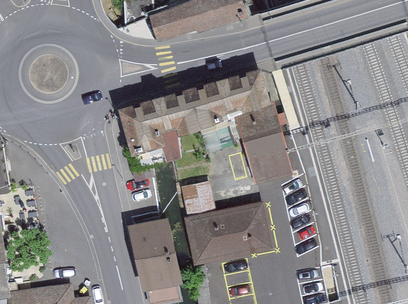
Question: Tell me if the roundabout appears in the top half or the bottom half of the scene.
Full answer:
The roundabout is in the top half of the image.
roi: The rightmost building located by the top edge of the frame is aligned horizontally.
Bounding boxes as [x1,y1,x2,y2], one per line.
[148,0,250,41]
